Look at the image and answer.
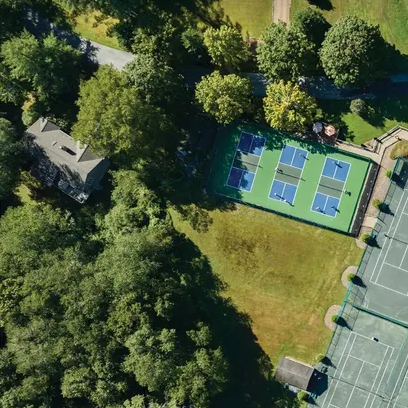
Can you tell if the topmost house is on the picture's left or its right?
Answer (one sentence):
The topmost house appears in the left half of the scene.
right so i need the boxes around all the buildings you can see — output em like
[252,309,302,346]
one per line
[275,357,316,390]
[17,117,109,190]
